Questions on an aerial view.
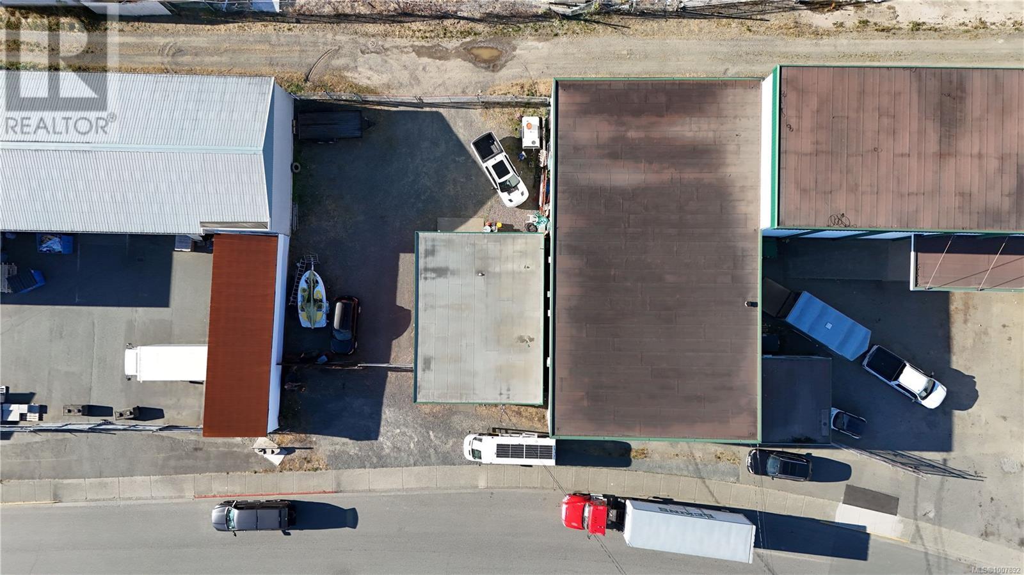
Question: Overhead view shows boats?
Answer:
Yes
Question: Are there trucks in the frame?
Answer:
Yes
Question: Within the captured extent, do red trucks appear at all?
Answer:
Yes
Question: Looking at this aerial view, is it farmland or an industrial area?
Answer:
industrial area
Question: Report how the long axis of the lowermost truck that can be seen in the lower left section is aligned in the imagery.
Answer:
from side to side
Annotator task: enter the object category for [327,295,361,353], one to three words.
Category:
car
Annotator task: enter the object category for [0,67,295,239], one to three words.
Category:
warehouse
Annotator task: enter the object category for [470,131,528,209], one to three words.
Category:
truck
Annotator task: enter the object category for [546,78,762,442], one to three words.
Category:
warehouse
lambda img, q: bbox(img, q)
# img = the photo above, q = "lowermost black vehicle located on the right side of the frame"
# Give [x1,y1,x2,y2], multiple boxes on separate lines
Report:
[745,447,813,483]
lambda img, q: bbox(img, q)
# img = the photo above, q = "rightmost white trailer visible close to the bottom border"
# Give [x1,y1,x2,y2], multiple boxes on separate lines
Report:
[623,497,758,563]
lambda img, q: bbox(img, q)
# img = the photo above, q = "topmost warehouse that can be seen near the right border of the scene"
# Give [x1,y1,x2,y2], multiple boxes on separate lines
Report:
[760,66,1024,293]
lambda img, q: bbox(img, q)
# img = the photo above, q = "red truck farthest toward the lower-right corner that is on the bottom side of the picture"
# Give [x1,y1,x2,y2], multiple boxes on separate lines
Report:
[557,488,663,534]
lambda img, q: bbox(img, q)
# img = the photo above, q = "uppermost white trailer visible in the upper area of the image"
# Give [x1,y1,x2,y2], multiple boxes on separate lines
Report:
[520,116,542,161]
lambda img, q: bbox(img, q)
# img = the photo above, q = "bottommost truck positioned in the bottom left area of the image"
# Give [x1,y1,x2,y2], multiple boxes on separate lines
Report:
[212,498,297,537]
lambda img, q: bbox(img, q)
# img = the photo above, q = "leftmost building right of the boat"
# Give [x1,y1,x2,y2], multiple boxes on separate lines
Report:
[414,232,545,409]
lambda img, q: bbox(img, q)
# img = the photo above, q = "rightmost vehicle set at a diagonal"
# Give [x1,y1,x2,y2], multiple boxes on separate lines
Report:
[859,344,944,408]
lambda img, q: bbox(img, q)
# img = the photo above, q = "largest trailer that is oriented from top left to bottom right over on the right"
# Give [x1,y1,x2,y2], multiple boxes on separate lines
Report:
[759,273,872,361]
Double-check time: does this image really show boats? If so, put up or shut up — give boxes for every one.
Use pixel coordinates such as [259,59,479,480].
[297,270,329,329]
